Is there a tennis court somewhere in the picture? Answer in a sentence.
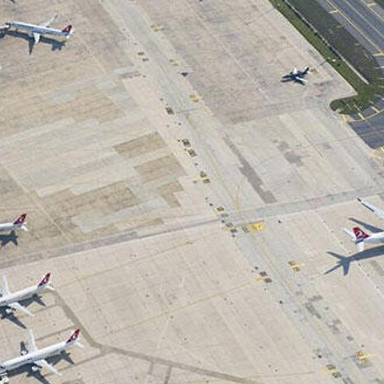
No, this view has no tennis court in it.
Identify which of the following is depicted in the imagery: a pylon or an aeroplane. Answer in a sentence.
Looking from above, you can make out an aeroplane.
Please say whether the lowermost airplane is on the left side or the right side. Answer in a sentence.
The lowermost airplane is on the left side of the image.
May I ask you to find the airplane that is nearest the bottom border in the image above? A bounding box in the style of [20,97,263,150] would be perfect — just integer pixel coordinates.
[0,330,84,376]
